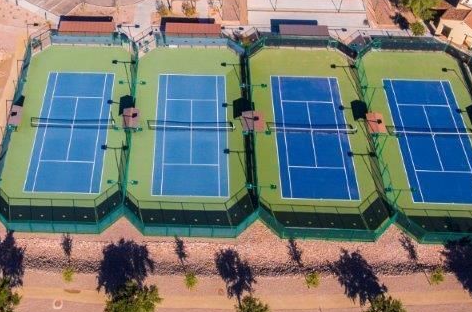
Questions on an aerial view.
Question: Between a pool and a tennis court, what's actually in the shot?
tennis court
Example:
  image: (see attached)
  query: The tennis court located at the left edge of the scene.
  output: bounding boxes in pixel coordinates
[0,44,139,236]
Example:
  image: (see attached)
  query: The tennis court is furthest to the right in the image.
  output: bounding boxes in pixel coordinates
[355,50,472,247]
